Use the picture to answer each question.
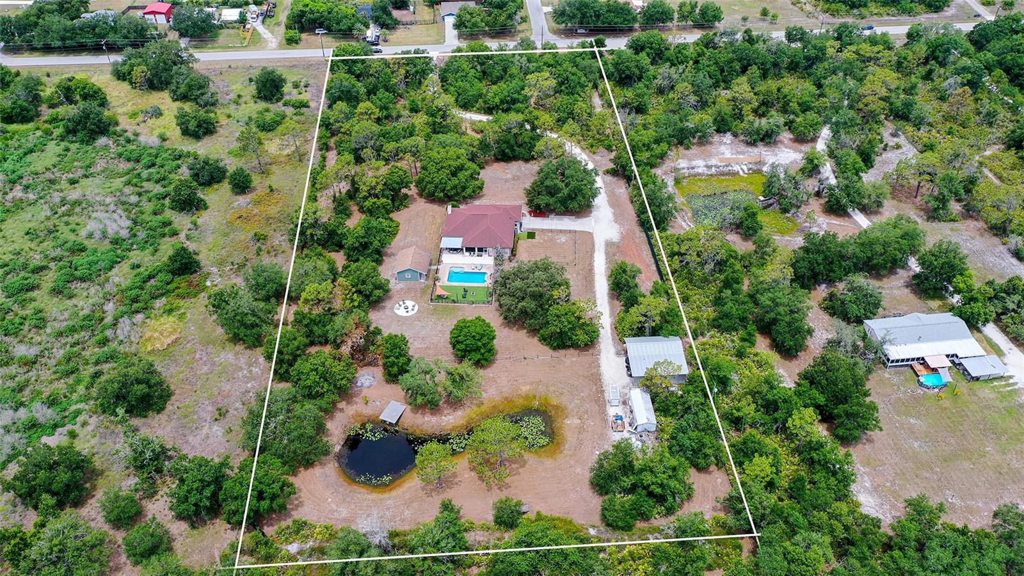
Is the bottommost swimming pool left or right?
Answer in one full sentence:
The bottommost swimming pool appears in the right half of the scene.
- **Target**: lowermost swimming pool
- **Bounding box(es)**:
[918,371,948,395]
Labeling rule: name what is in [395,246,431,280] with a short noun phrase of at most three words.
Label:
shed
